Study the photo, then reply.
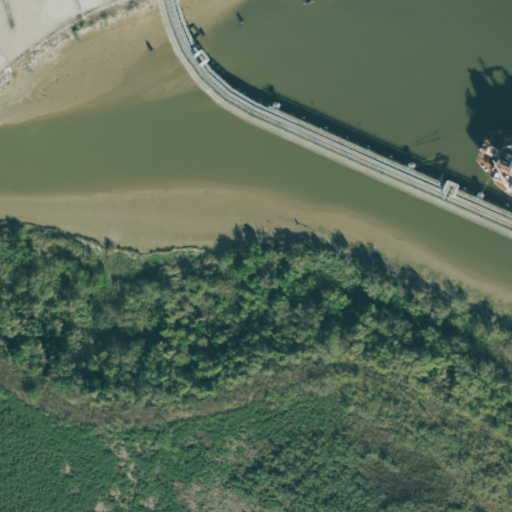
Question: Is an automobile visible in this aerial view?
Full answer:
No, I can see no automobile in this picture.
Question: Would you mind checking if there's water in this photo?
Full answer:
Yes, there is water in the image.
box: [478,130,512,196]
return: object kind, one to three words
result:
ship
